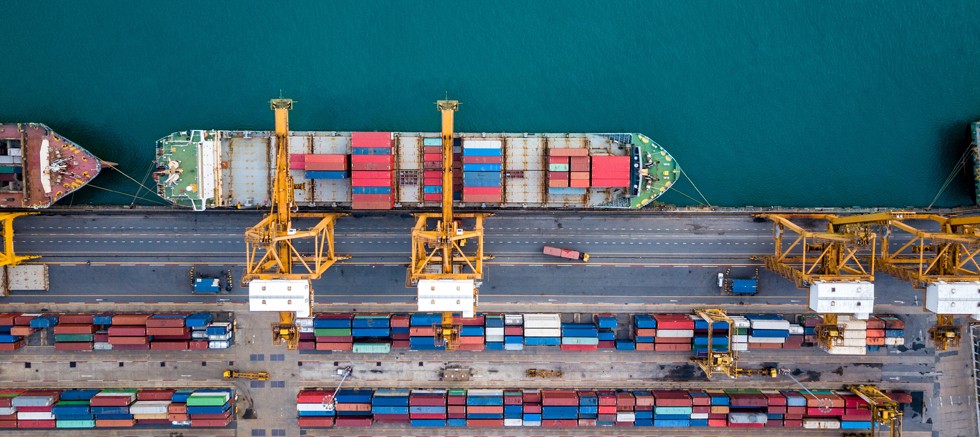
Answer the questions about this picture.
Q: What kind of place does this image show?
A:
port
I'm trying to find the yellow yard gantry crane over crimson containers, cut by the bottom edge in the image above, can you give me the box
[845,384,902,437]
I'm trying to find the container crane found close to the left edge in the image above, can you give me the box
[0,213,37,268]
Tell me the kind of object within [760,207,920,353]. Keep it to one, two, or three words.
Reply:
container crane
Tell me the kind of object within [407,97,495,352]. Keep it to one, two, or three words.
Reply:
container crane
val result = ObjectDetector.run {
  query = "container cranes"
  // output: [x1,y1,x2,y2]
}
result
[407,97,495,352]
[871,214,980,353]
[0,213,37,268]
[845,384,902,437]
[695,310,738,381]
[241,89,345,352]
[760,207,920,353]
